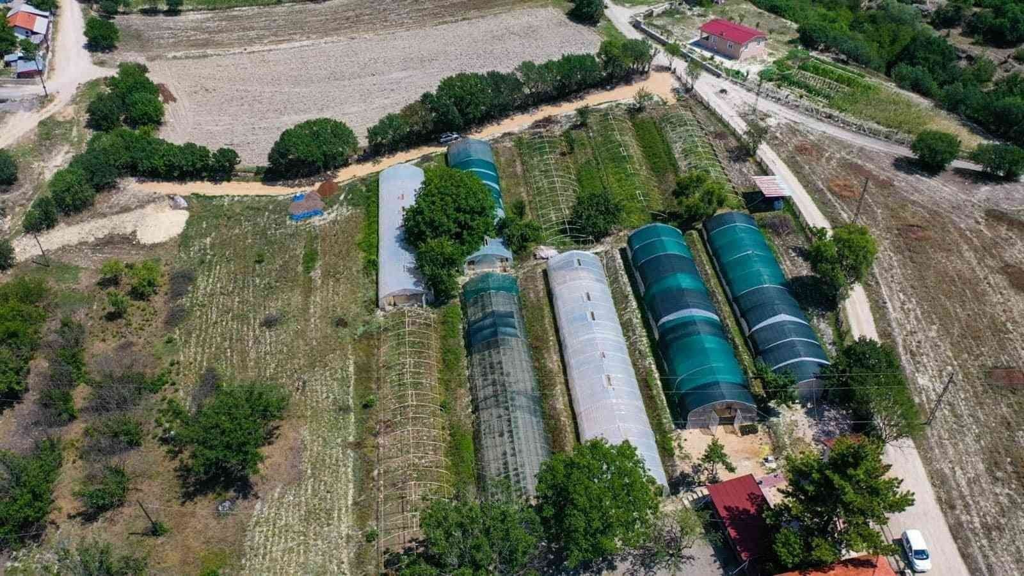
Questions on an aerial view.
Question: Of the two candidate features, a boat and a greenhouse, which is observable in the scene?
greenhouse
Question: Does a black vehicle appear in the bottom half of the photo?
No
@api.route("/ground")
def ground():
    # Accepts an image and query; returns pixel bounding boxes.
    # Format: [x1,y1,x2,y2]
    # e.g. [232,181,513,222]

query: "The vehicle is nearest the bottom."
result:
[899,529,937,575]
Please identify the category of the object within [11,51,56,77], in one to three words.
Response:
shed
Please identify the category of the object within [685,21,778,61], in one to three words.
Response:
house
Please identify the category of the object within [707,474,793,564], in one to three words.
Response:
shed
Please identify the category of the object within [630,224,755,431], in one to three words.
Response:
greenhouse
